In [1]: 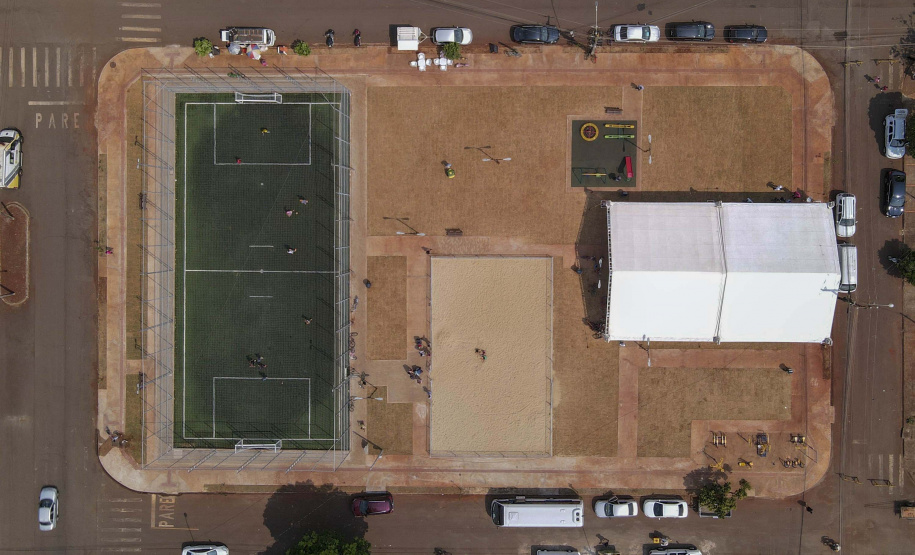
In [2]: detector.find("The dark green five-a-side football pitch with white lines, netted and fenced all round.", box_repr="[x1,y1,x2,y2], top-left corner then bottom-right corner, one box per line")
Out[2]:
[147,74,354,466]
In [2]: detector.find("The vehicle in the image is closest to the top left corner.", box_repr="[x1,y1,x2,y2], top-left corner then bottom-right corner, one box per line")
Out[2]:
[0,130,24,187]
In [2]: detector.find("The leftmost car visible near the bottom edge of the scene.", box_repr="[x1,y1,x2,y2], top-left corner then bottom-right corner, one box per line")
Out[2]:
[37,484,62,531]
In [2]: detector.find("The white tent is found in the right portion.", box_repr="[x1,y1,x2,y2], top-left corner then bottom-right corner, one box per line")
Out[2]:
[589,196,844,346]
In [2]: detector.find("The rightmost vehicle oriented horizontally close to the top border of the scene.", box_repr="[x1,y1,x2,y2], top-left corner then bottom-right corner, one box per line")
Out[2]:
[724,23,768,44]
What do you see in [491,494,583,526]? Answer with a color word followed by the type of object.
white bus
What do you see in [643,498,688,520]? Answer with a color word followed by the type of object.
white car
